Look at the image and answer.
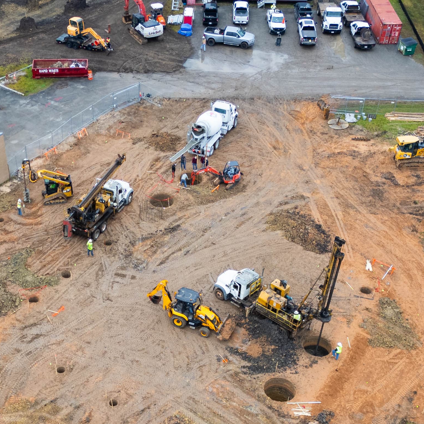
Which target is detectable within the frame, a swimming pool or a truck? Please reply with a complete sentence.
It is a truck that can be seen here.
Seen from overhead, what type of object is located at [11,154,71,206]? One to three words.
work vehicle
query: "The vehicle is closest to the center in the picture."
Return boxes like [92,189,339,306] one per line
[189,159,253,192]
